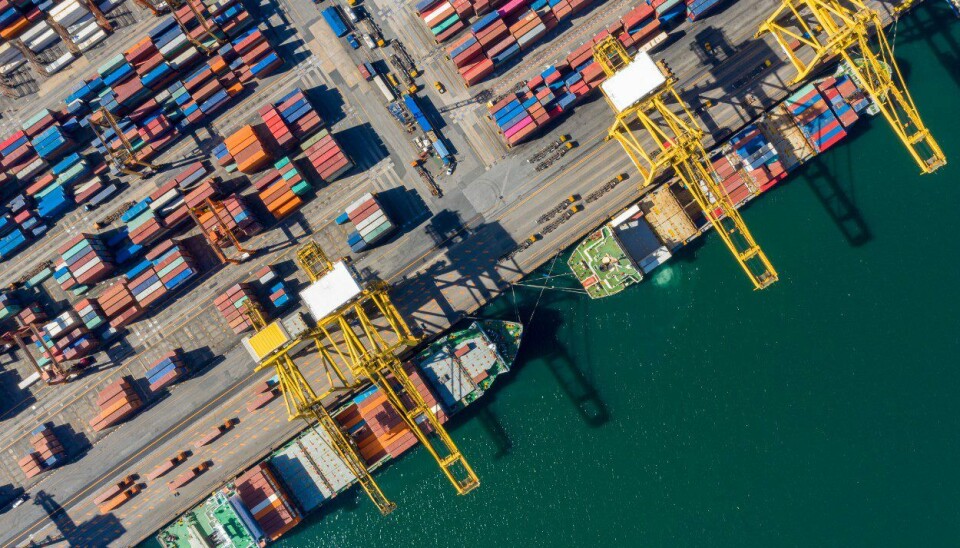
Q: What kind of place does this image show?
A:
port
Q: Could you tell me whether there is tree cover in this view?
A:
No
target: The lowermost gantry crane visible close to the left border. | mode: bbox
[9,321,90,384]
